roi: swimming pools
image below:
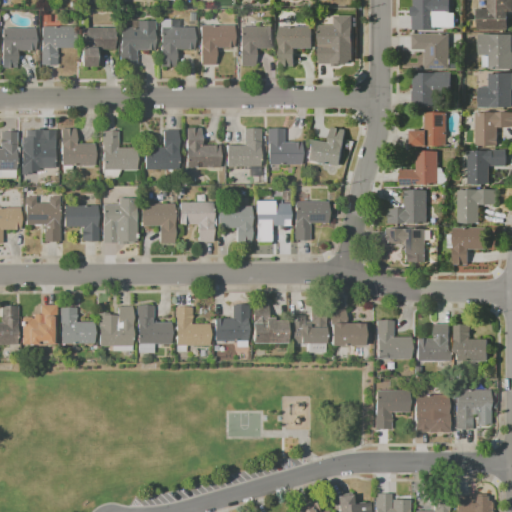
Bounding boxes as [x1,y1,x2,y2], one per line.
[448,112,460,136]
[12,14,32,26]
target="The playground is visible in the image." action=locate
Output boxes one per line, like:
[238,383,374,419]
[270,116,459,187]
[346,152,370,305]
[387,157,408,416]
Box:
[282,396,310,431]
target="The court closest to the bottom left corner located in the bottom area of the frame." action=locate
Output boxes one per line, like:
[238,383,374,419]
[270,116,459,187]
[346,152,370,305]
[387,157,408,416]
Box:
[226,410,262,439]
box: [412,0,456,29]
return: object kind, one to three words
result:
house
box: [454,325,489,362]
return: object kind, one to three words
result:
house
